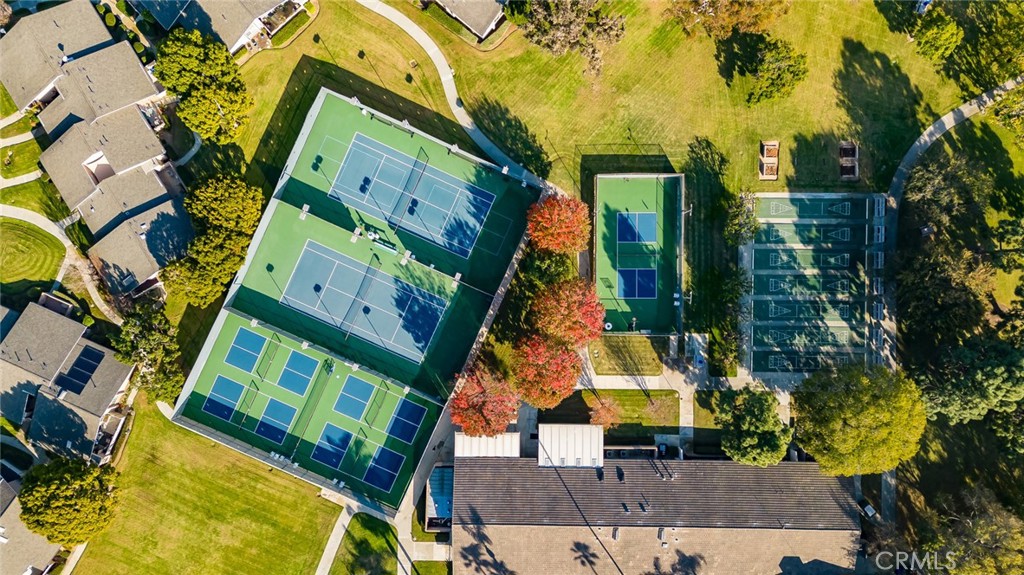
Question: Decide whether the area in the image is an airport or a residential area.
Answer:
residential area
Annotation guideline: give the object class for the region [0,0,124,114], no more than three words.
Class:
house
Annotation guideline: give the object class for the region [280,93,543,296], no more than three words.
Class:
tennis court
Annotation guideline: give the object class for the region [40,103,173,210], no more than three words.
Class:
house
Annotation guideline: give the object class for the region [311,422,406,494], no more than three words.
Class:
sports court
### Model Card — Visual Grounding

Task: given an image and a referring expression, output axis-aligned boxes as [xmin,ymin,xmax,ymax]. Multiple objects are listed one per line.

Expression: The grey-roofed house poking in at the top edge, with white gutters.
[434,0,508,44]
